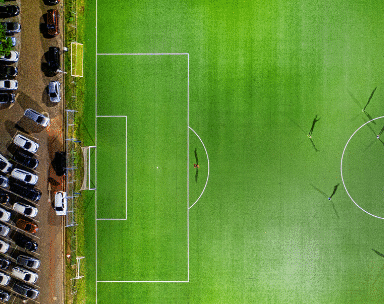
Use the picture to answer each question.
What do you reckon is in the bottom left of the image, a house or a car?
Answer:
car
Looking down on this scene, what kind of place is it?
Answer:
sports ground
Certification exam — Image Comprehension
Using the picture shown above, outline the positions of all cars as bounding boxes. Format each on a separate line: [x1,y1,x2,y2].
[0,50,21,63]
[0,175,9,189]
[11,133,41,153]
[12,232,41,254]
[0,91,17,105]
[0,241,12,256]
[15,216,41,235]
[9,166,40,186]
[0,78,20,91]
[48,80,62,105]
[0,65,20,77]
[12,280,41,299]
[0,4,22,17]
[16,253,43,270]
[10,265,40,284]
[24,108,49,127]
[0,272,12,288]
[0,152,14,173]
[0,209,12,224]
[0,226,12,240]
[45,9,60,37]
[13,202,39,219]
[0,37,18,47]
[0,257,12,271]
[44,47,60,75]
[53,190,66,215]
[52,152,66,177]
[11,181,42,202]
[12,149,41,170]
[0,193,10,206]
